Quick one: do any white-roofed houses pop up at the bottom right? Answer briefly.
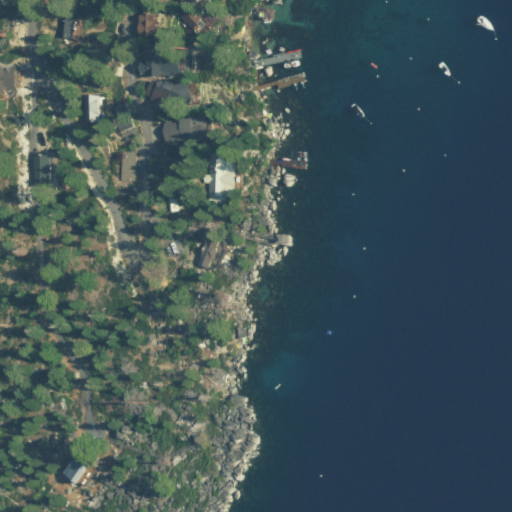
No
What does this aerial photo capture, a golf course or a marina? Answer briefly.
marina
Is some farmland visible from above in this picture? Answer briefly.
No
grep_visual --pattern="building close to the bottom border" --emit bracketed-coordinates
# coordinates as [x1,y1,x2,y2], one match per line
[62,460,94,488]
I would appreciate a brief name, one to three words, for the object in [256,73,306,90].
pier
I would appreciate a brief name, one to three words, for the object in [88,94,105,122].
house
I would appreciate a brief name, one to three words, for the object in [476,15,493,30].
boat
